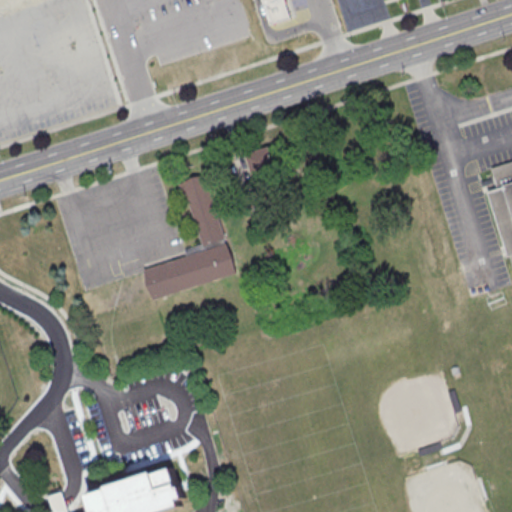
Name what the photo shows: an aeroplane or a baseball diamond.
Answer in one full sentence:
It is a baseball diamond that can be seen here.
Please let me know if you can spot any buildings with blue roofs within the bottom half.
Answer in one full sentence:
No, no building with a blue roof is visible within the bottom half.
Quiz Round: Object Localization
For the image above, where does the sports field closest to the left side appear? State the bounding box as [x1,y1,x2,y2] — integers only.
[218,344,376,512]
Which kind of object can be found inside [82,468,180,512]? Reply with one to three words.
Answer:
building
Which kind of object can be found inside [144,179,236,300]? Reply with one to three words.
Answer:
building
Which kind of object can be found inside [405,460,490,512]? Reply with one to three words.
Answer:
baseball field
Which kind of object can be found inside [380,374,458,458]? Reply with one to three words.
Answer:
baseball field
